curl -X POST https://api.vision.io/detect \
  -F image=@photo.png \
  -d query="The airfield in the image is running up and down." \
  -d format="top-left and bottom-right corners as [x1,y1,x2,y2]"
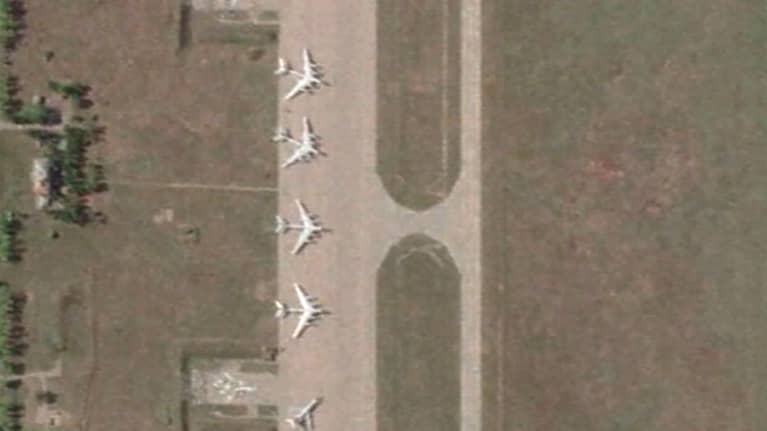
[278,0,482,431]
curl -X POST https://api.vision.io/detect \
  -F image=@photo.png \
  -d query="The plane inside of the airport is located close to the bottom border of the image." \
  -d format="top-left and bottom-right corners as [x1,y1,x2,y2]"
[284,399,319,430]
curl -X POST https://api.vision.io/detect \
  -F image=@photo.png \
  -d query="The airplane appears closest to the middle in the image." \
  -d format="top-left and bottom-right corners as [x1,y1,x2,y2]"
[277,199,330,253]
